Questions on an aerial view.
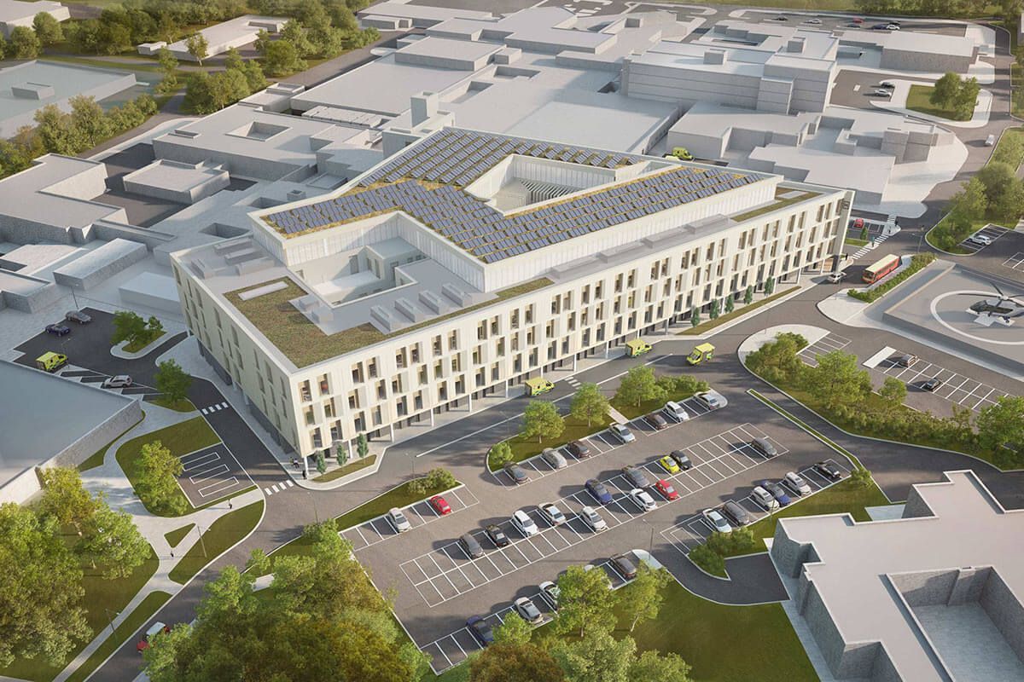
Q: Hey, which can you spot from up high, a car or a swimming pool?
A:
car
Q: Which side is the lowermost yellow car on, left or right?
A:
right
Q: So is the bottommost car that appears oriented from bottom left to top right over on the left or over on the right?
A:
left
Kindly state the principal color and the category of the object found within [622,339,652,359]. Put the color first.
yellow vehicle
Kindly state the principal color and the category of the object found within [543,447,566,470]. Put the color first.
gray car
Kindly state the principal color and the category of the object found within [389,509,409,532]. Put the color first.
white car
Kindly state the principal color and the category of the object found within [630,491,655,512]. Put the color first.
white car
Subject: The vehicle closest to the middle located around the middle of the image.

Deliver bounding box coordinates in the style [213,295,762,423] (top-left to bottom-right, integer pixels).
[521,377,555,399]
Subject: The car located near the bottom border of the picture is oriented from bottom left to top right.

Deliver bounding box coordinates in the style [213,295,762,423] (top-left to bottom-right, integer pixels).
[138,618,170,651]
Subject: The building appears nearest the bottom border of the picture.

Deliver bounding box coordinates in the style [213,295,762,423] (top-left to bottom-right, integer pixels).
[773,471,1024,682]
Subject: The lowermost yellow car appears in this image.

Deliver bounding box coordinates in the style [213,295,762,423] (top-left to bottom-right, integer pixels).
[658,455,680,475]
